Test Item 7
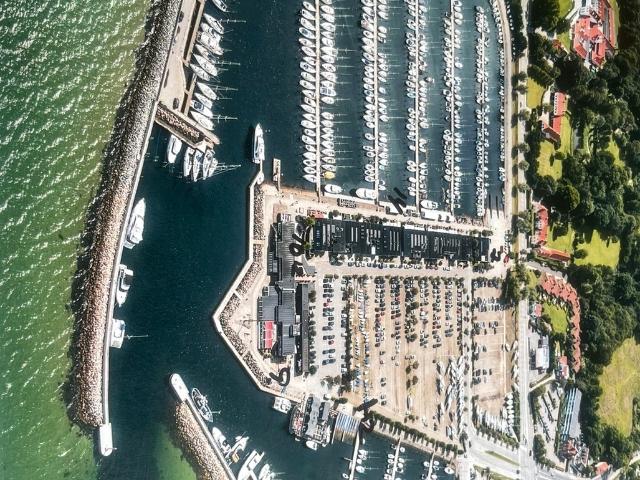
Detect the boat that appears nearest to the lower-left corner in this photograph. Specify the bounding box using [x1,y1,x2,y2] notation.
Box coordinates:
[113,319,134,348]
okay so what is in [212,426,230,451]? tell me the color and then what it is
white boat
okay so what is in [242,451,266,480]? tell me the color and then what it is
white boat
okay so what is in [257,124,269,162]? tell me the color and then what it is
white ship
